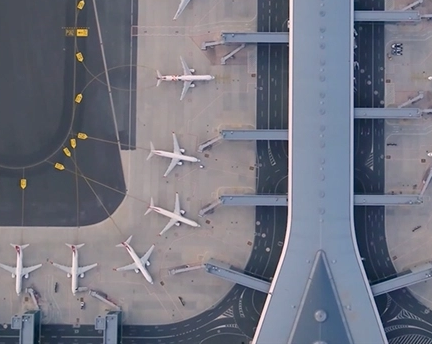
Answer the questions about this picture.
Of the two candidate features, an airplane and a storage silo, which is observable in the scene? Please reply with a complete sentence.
I can see an airplane in this picture.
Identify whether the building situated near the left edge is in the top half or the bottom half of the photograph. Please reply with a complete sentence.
You can find the building situated near the left edge in the bottom half.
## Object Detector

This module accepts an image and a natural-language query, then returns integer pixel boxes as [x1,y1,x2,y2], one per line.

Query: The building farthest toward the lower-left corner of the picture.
[10,308,43,344]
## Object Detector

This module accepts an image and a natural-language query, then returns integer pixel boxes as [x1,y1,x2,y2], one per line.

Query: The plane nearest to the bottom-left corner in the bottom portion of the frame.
[0,244,41,296]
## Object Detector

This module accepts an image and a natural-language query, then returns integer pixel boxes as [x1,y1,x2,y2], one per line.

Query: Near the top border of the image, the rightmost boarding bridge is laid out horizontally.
[354,0,432,24]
